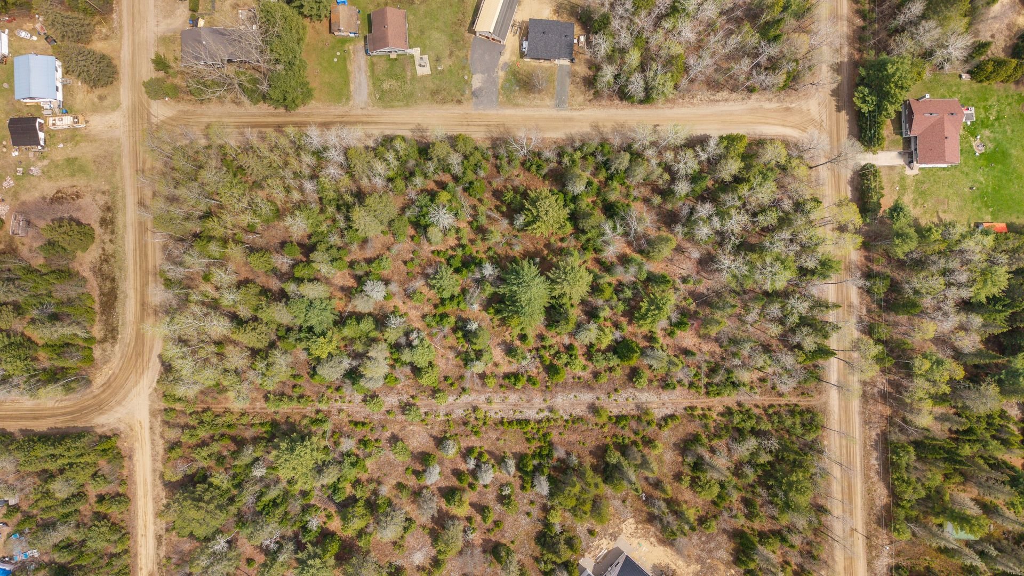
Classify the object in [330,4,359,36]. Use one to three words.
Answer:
shed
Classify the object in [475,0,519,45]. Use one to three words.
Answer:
barn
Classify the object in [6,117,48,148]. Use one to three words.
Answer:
building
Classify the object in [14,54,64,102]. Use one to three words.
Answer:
house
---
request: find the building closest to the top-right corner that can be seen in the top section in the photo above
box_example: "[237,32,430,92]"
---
[900,95,965,166]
